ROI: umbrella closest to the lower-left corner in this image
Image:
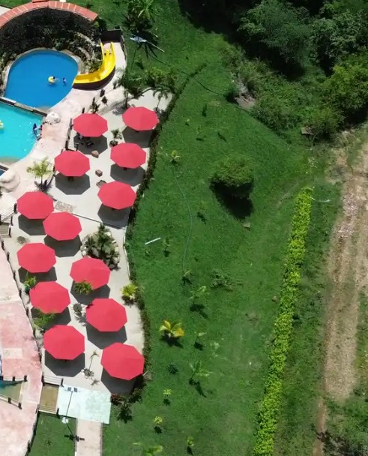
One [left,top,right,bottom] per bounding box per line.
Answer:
[42,326,84,361]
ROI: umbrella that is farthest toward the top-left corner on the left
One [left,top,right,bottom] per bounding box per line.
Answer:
[73,114,108,138]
